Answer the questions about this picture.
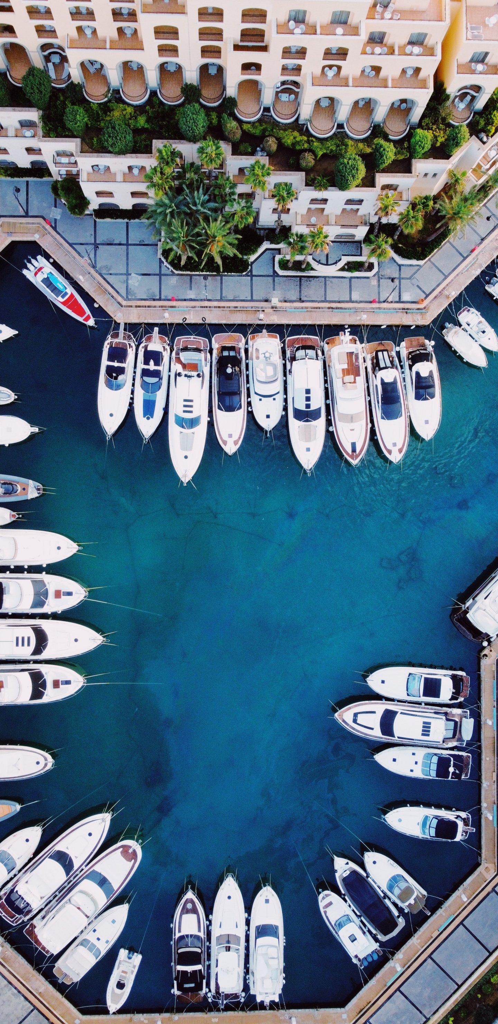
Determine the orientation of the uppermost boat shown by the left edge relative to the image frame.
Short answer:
at an angle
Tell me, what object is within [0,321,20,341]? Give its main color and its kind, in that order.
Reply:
white boat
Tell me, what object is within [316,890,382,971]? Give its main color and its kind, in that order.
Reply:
white boat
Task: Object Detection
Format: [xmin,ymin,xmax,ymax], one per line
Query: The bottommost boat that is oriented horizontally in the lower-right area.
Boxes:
[381,803,476,842]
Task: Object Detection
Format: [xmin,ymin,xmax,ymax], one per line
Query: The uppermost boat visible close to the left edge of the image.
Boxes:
[19,251,97,327]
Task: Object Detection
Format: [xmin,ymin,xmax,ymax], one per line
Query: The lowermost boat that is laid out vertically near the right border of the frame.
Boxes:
[463,709,476,747]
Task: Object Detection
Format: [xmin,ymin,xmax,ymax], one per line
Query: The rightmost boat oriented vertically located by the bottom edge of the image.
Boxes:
[250,882,285,1008]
